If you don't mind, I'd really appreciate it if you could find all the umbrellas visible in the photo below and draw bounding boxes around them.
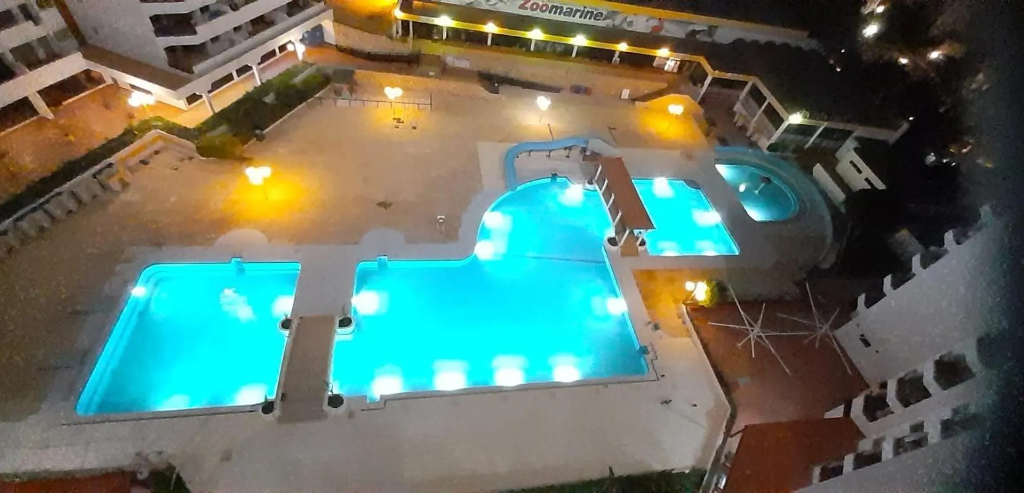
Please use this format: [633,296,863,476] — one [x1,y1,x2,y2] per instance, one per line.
[709,286,803,373]
[777,288,872,376]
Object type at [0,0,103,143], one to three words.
building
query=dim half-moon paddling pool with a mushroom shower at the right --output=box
[711,161,802,224]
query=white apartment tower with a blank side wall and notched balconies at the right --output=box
[834,179,1024,493]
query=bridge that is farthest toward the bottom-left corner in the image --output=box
[273,313,343,425]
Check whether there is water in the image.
Yes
